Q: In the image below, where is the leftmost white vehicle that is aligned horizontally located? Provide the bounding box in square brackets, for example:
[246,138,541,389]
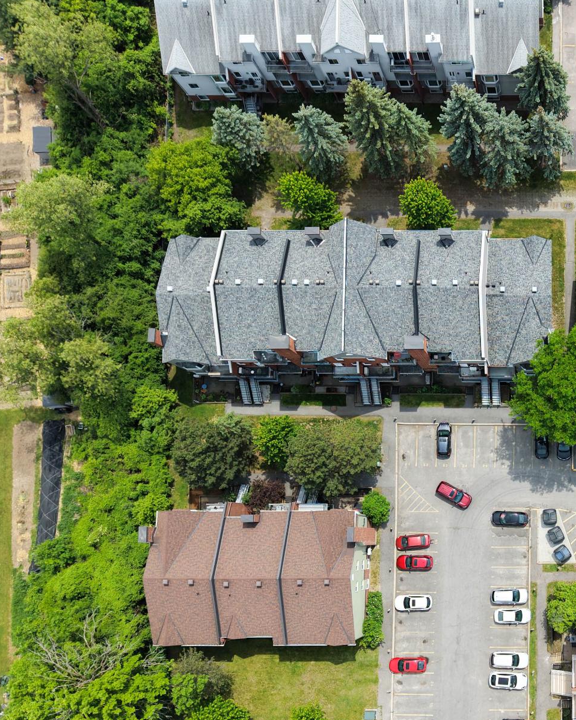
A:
[396,595,431,612]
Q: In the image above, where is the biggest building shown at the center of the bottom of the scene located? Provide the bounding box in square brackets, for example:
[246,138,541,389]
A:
[139,483,379,648]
